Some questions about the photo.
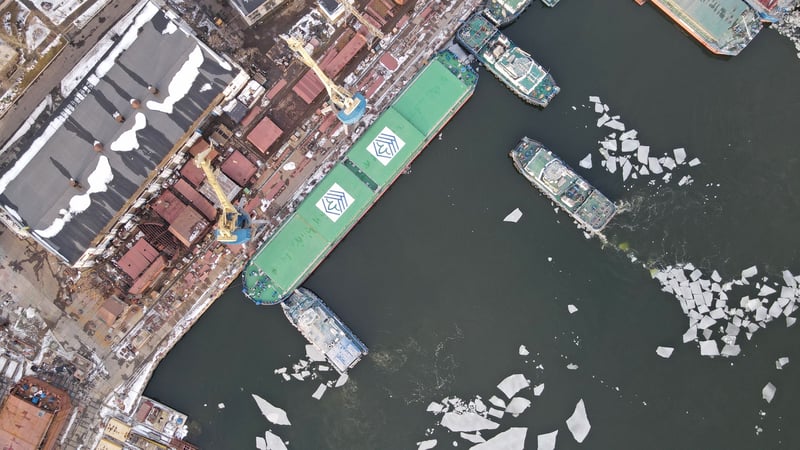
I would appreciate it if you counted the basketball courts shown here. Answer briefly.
none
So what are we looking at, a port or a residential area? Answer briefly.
port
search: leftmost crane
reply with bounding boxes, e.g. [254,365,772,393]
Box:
[195,148,266,251]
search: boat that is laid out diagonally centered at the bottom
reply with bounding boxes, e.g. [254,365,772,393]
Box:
[282,286,367,371]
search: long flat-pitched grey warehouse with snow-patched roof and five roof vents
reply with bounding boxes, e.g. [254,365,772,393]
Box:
[0,0,250,264]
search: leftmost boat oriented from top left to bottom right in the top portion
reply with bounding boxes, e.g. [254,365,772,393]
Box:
[455,11,559,106]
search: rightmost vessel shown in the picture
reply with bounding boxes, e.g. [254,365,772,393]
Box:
[743,0,791,25]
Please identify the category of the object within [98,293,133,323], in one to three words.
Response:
shed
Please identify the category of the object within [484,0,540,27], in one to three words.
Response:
boat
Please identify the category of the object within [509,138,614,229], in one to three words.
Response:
boat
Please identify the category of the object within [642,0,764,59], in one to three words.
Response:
ship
